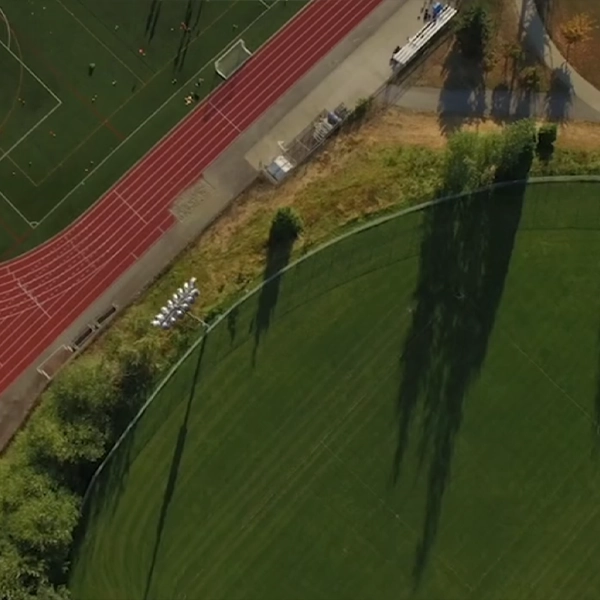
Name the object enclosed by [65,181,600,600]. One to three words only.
sports field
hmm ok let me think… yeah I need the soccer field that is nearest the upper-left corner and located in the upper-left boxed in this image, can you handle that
[0,0,311,266]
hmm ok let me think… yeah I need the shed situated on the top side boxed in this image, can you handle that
[267,155,295,183]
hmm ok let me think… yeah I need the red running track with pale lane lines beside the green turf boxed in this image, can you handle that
[0,0,387,393]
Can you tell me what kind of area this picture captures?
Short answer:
sports ground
